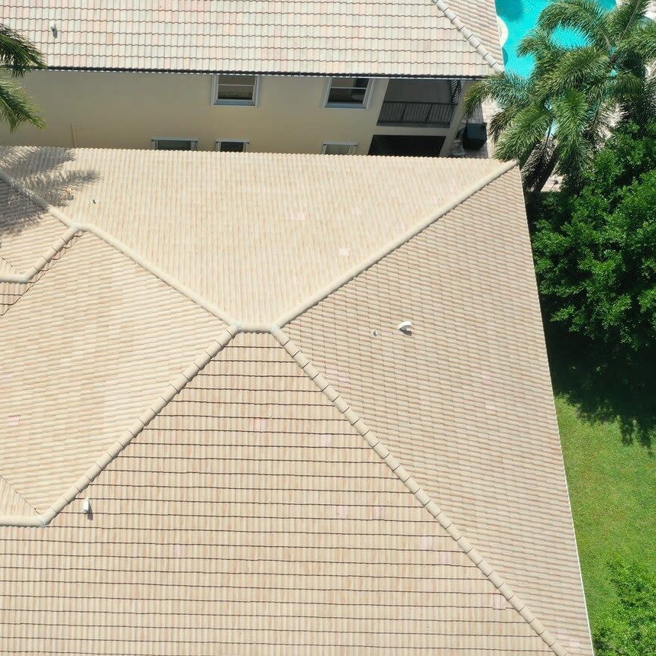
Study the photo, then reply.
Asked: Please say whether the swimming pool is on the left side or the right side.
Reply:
right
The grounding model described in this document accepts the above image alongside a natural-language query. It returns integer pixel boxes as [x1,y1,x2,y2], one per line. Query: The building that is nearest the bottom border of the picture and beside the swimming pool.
[0,143,594,656]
